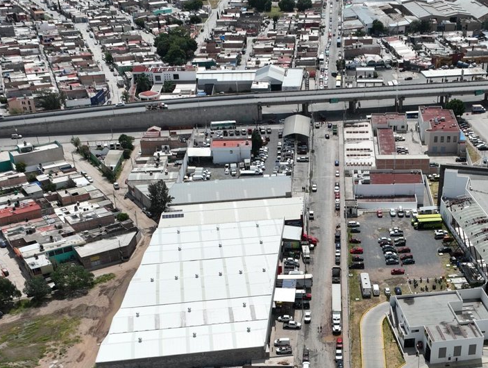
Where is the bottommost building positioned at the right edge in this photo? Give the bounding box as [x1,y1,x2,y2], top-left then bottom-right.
[424,323,484,365]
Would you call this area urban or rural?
urban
